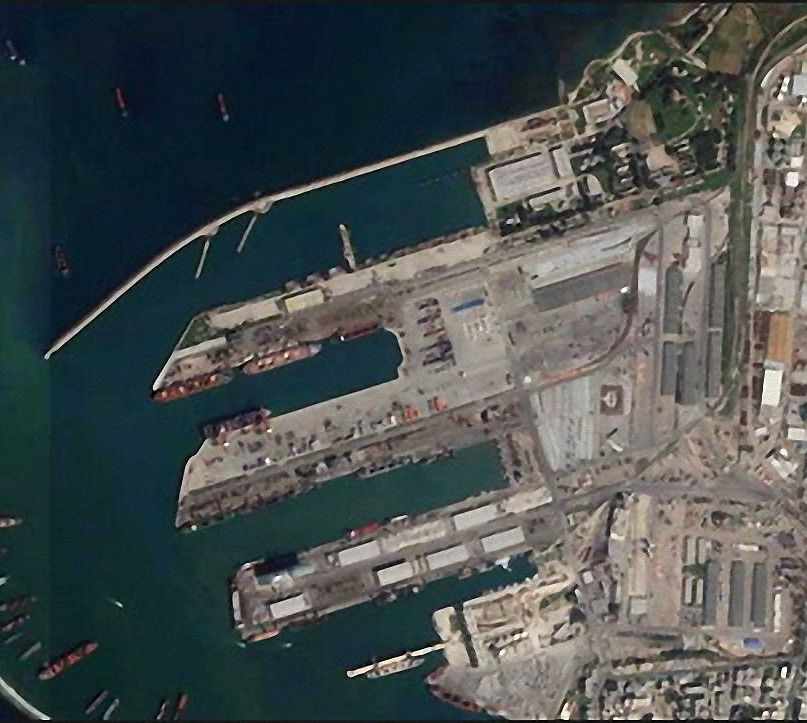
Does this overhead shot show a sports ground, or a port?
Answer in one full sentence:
It's a port.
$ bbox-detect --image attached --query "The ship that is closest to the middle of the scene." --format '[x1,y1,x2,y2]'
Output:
[338,324,379,341]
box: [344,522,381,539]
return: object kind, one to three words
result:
ship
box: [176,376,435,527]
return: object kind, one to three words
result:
pier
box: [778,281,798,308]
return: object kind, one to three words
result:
building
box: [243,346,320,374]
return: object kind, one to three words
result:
ship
